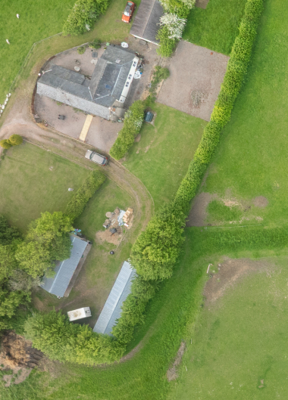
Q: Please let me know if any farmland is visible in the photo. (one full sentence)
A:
Yes, there's farmland in this view.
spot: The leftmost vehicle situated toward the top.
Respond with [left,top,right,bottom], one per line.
[85,149,109,166]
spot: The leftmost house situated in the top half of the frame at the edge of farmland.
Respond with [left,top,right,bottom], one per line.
[38,45,140,121]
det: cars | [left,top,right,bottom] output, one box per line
[122,1,136,22]
[85,149,109,166]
